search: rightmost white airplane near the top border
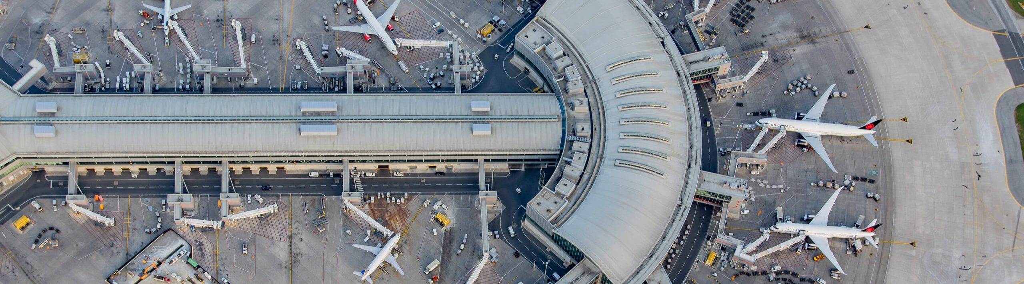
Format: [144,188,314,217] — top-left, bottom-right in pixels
[333,0,402,55]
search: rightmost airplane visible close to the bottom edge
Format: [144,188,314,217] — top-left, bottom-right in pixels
[770,186,882,277]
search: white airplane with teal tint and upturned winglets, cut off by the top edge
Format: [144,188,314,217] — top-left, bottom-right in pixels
[142,0,191,35]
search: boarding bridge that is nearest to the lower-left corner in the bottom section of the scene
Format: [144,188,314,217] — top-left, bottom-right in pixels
[67,203,118,228]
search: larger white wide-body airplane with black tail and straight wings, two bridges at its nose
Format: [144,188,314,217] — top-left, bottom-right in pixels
[755,85,881,173]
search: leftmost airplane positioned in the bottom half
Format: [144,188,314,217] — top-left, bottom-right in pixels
[353,234,404,284]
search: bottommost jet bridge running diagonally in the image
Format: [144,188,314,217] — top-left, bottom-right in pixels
[463,254,491,284]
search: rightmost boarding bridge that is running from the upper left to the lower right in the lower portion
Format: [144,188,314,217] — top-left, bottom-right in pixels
[343,200,396,239]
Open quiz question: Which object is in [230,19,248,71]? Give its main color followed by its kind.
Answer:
white jet bridge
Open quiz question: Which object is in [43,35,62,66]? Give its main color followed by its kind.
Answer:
white jet bridge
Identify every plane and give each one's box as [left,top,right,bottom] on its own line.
[142,0,191,35]
[333,0,402,55]
[353,234,404,284]
[755,85,881,173]
[770,186,882,277]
